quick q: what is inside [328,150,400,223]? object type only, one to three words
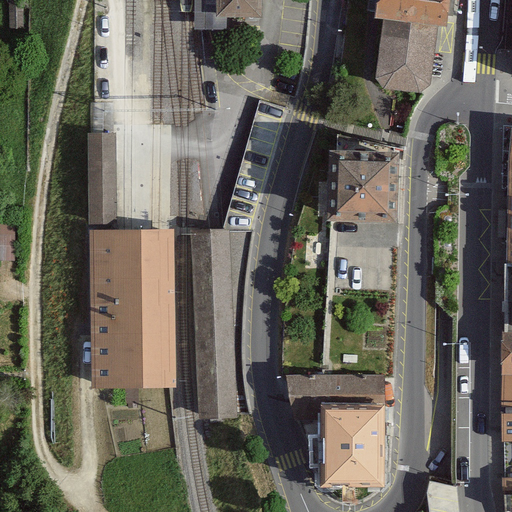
house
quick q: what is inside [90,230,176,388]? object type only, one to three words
shed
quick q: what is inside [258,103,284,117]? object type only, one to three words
car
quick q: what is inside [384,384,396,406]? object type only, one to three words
vehicle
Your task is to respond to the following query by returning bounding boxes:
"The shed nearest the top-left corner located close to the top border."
[8,3,24,28]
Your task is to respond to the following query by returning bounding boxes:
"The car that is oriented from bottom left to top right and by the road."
[426,450,446,471]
